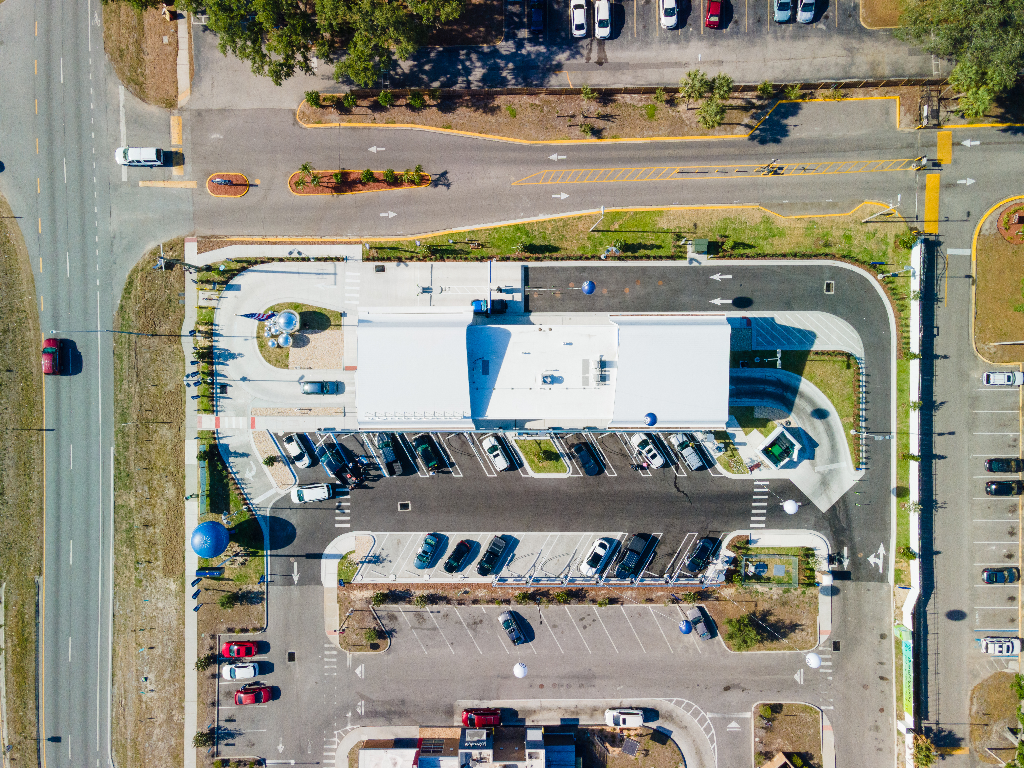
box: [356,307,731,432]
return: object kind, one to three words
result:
building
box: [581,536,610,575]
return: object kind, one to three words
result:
car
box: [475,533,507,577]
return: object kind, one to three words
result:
vehicle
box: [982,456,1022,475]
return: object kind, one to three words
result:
car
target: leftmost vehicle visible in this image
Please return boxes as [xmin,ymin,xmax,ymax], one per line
[39,338,63,375]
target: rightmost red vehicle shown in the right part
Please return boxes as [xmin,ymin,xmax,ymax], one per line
[704,0,724,29]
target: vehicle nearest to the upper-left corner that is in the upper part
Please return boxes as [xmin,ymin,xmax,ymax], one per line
[115,146,165,167]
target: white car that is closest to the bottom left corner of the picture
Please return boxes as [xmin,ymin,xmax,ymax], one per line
[223,661,260,681]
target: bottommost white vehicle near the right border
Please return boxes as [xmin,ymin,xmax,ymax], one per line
[978,636,1022,657]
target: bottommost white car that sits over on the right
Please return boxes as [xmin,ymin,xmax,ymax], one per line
[604,707,644,729]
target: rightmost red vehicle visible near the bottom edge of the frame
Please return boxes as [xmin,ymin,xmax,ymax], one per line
[462,708,501,730]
